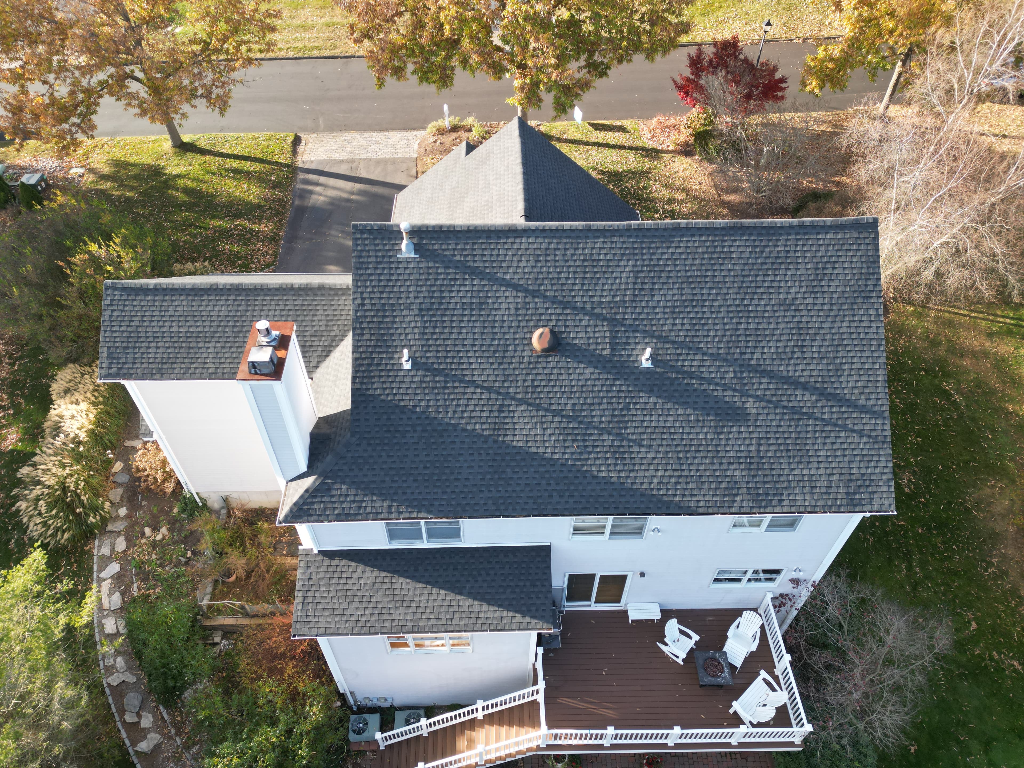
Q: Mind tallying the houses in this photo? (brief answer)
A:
1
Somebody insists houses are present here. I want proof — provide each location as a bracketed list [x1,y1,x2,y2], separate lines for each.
[98,118,900,714]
